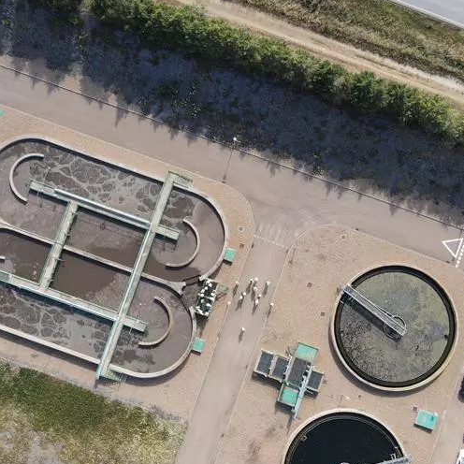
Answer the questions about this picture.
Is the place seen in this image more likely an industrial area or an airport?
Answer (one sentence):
It's an industrial area.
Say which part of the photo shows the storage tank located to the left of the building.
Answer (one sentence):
The storage tank located to the left of the building sits in the left section of the image.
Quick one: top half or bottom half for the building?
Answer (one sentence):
The building is in the bottom half of the image.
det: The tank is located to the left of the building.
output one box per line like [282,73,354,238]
[0,136,226,384]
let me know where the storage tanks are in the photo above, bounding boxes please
[330,264,457,389]
[0,136,226,384]
[280,408,414,464]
